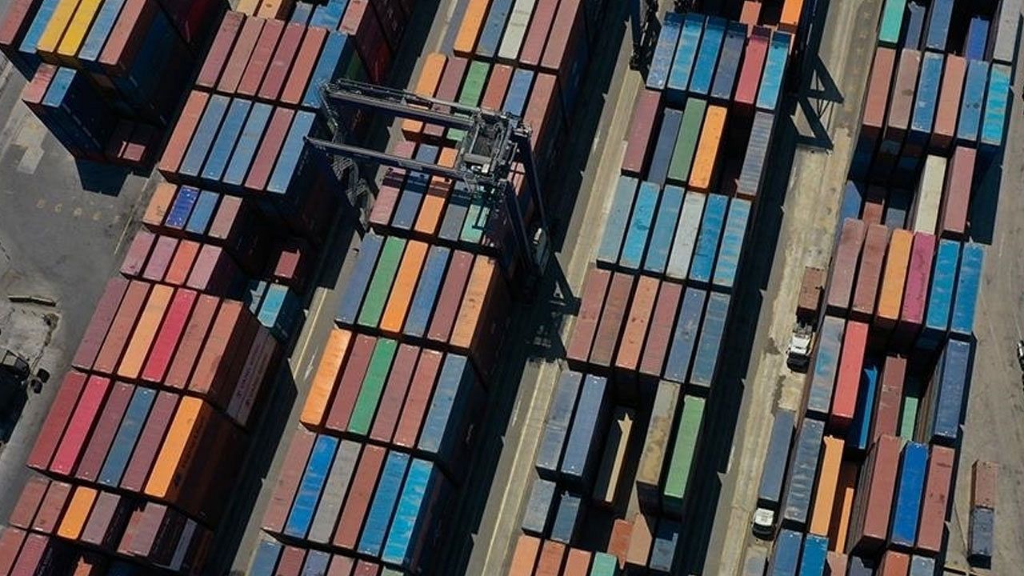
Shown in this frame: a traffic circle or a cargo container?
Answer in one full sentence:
Of the two, only a cargo container appears.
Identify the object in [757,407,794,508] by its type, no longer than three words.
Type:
shipping container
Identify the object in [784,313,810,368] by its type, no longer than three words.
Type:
truck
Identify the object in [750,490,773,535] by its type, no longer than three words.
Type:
truck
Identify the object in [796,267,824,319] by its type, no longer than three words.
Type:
shipping container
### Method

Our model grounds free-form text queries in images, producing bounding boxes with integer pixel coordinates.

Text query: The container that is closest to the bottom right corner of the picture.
[965,507,995,563]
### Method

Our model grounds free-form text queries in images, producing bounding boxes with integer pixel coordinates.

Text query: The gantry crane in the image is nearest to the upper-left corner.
[299,75,562,295]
